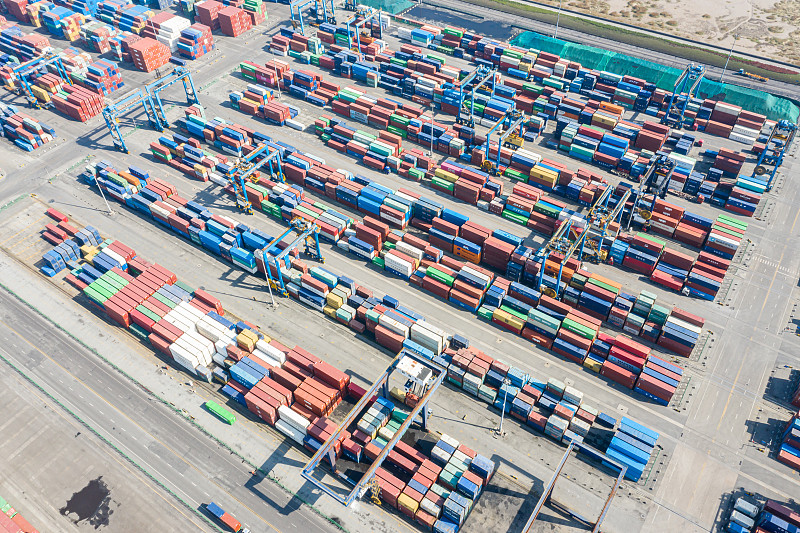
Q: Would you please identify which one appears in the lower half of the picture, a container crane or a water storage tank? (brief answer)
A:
container crane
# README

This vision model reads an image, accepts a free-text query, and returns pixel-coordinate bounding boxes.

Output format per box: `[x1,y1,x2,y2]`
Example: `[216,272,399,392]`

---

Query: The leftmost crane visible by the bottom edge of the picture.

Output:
[298,350,446,510]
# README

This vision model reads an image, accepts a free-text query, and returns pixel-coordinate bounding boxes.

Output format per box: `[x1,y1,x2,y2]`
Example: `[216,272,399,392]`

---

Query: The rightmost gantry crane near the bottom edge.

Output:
[519,442,628,533]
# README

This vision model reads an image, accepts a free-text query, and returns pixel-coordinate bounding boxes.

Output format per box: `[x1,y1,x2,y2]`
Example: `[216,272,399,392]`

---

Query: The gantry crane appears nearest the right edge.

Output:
[752,119,799,191]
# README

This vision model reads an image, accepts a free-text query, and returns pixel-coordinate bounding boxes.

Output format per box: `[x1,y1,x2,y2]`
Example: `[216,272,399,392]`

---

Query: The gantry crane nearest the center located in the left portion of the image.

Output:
[259,216,328,301]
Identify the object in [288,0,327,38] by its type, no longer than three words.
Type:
container crane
